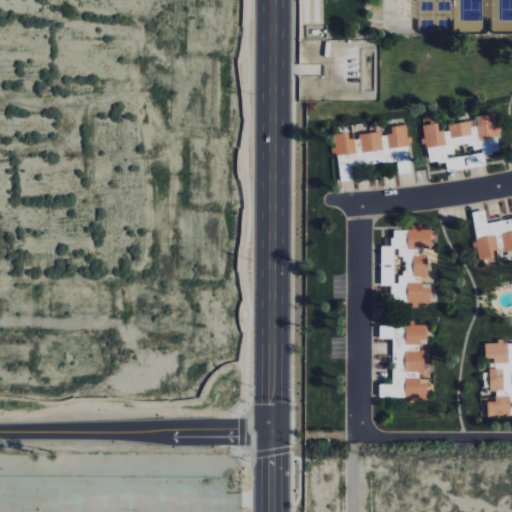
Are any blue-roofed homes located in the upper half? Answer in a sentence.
No, I can find no blue-roofed home in the upper half.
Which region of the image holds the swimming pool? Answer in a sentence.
Look in the right portion of the view to spot the swimming pool.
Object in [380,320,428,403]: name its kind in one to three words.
house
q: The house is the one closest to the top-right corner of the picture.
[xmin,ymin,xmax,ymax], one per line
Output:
[422,115,502,172]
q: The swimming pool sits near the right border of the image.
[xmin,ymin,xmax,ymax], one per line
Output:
[492,285,512,318]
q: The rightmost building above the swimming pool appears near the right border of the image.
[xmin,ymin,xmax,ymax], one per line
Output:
[473,210,512,262]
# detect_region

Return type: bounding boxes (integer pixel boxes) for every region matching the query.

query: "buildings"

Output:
[422,115,502,172]
[473,210,512,262]
[382,230,432,308]
[380,320,428,403]
[486,340,512,417]
[332,124,413,182]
